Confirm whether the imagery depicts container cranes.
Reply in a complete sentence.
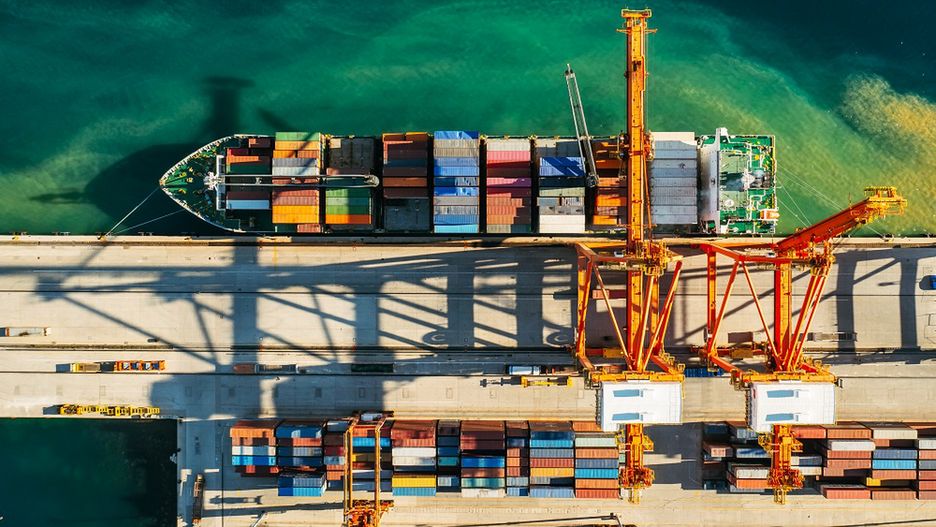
Yes, there's a container crane here.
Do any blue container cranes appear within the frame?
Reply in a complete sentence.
No, I can't see a single blue container crane in this photo.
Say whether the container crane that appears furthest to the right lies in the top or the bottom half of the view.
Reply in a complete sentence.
The bottom half of the photo is where the container crane that appears furthest to the right is.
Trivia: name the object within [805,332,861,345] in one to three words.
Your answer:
vehicle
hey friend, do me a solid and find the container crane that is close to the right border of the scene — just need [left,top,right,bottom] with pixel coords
[675,192,917,506]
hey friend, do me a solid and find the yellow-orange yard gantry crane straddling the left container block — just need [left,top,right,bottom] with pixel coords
[343,399,397,527]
